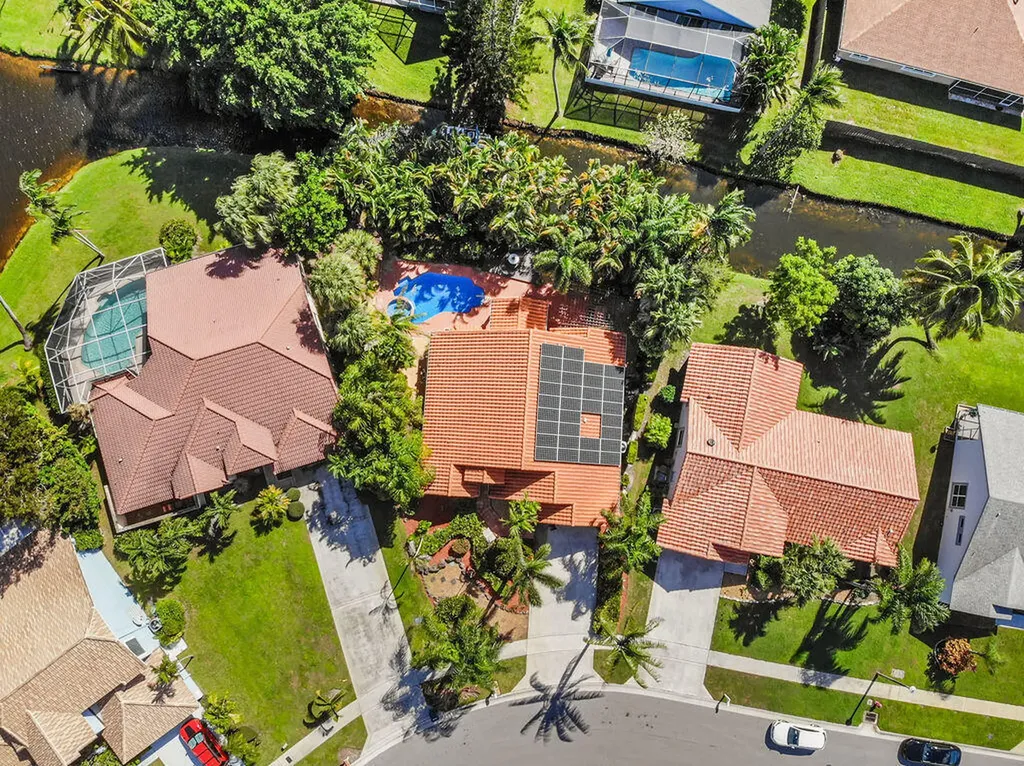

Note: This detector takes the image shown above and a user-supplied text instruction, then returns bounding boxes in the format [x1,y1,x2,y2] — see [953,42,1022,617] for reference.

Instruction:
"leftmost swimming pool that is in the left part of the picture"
[79,273,148,379]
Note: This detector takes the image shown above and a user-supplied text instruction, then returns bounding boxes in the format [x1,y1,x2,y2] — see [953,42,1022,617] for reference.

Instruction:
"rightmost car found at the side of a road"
[901,738,967,766]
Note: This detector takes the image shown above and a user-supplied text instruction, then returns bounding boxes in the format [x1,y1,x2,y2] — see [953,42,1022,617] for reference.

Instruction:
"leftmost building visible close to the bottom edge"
[0,531,204,766]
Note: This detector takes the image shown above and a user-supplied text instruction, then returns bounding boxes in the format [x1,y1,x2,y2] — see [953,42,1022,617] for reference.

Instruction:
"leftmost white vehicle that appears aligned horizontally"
[770,723,830,757]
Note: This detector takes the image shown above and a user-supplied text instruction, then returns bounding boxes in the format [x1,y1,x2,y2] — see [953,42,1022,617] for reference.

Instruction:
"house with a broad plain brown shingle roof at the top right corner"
[838,0,1024,99]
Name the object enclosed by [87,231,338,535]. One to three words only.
house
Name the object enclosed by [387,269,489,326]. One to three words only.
swimming pool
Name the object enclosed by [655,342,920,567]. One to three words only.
house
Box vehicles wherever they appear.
[180,717,226,766]
[901,738,967,766]
[770,723,830,757]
